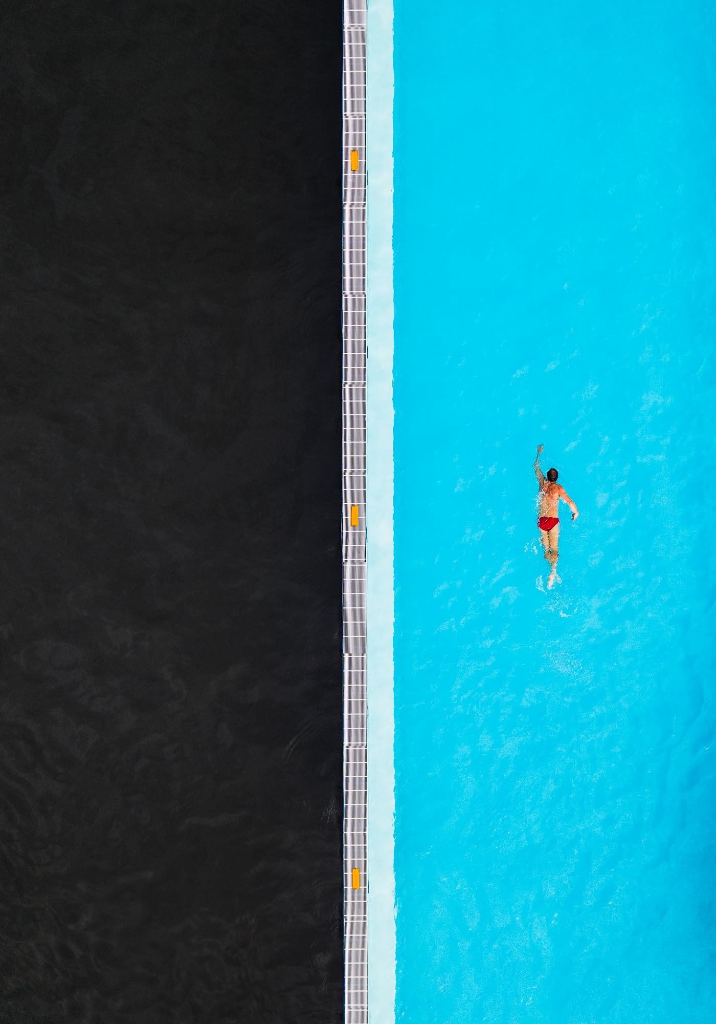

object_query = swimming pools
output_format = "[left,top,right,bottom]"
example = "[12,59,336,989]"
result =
[367,0,716,1024]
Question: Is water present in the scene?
Yes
